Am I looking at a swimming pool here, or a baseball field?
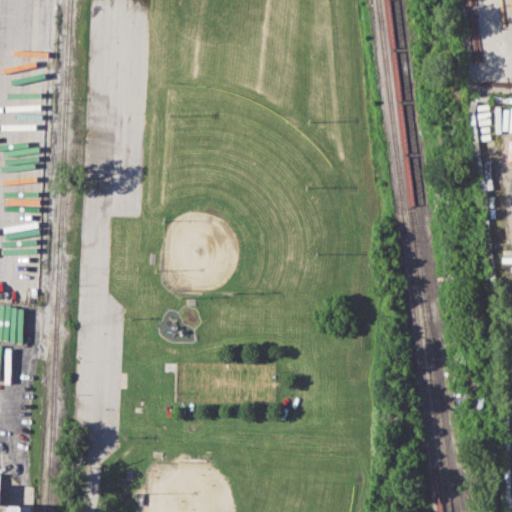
baseball field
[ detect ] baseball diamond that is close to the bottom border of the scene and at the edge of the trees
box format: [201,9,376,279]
[134,348,364,512]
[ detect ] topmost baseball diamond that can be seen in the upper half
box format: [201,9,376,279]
[160,78,378,295]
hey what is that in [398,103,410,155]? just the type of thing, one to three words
rail car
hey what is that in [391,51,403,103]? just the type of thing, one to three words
rail car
